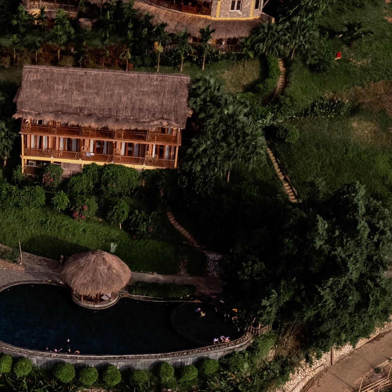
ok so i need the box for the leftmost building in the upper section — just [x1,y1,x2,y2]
[7,62,195,183]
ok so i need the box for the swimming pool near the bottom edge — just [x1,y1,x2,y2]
[0,281,258,380]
